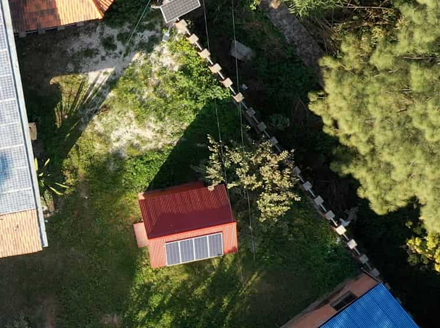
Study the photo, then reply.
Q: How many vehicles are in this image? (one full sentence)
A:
The photo contains no vehicles.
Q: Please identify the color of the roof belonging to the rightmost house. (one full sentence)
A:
The roof of the rightmost house is blue.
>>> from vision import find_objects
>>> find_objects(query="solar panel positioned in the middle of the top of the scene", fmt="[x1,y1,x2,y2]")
[160,0,200,23]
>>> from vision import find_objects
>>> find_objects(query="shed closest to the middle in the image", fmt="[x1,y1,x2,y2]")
[131,176,237,268]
